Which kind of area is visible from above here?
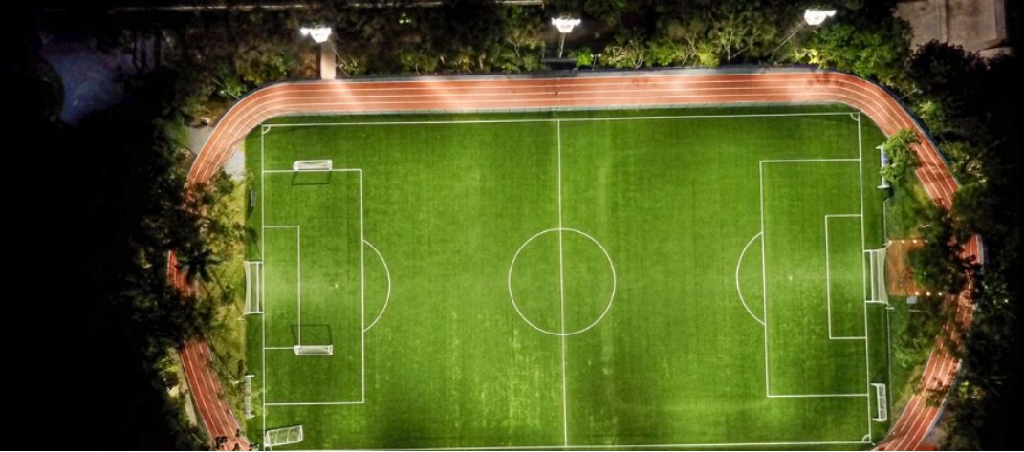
sports ground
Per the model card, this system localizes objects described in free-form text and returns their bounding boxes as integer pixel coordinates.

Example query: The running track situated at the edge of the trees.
[169,72,978,452]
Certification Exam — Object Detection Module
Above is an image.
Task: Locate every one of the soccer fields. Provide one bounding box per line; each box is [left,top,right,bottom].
[242,102,892,452]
